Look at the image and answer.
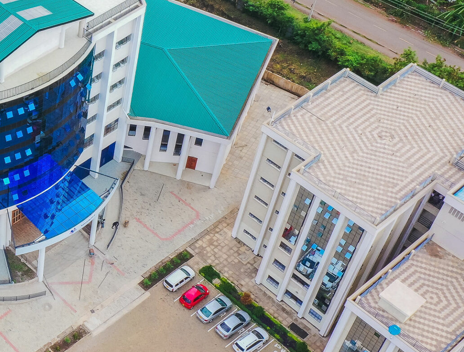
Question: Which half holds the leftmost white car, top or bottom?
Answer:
bottom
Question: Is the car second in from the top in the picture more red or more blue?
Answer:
red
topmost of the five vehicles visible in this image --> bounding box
[164,265,201,295]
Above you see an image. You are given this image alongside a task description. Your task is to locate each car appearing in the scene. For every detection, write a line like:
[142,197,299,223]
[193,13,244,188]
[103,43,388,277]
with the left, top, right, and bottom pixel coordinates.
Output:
[164,265,201,295]
[213,309,252,341]
[195,295,234,325]
[230,324,271,352]
[181,280,217,309]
